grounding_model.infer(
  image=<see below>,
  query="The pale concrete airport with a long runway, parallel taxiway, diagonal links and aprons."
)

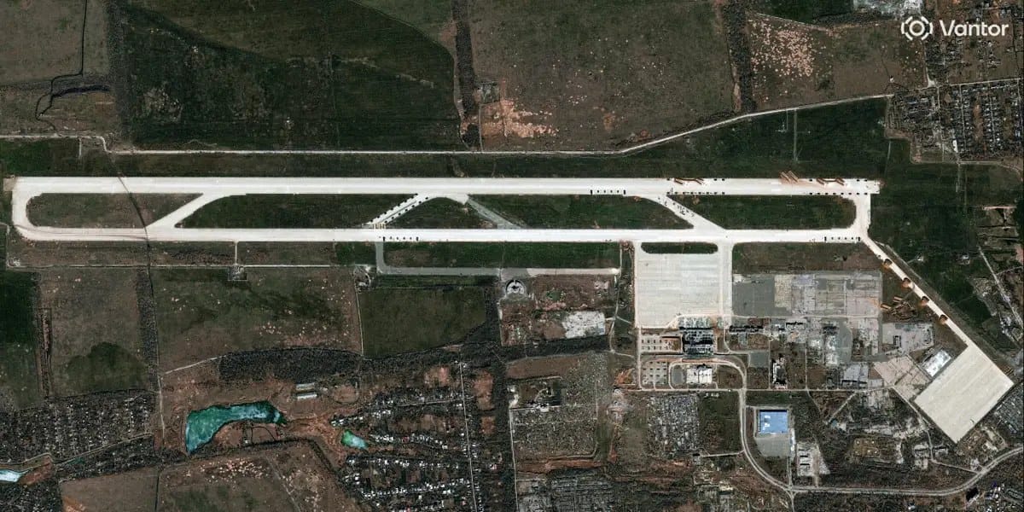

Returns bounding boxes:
[3,176,1014,443]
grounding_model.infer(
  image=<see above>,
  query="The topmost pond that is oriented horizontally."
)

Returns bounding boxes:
[186,400,286,455]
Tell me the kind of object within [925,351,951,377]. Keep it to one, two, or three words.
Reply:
building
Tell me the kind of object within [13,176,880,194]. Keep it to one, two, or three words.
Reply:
runway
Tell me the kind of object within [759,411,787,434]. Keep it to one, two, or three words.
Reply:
building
